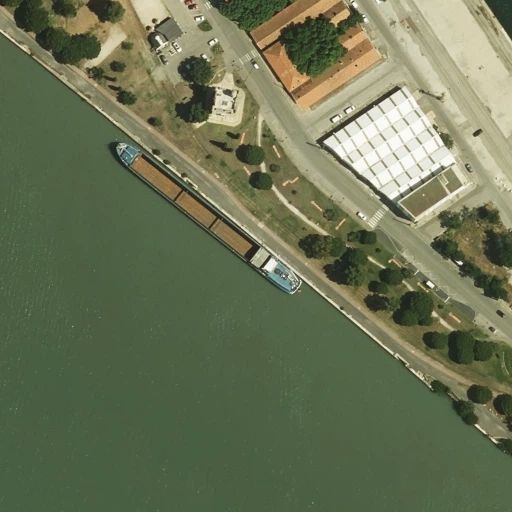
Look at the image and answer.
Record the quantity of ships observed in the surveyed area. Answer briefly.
1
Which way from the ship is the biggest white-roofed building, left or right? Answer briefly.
to its right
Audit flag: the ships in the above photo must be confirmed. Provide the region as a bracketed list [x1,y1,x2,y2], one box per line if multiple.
[117,142,303,295]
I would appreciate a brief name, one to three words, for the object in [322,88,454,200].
building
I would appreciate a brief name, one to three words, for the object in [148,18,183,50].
building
